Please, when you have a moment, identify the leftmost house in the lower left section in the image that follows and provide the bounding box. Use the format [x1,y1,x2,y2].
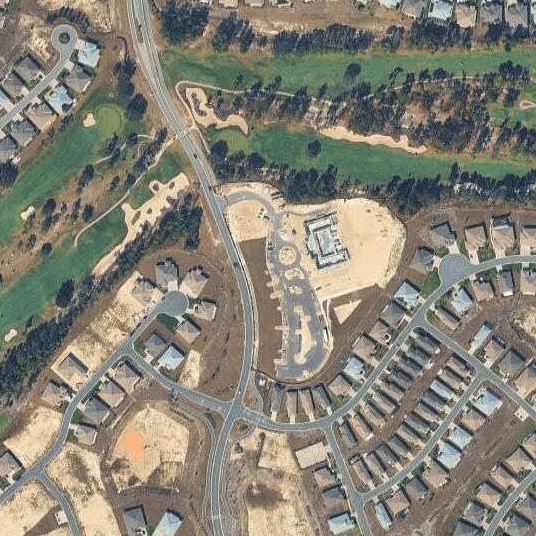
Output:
[0,451,21,480]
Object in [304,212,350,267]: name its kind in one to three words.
building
